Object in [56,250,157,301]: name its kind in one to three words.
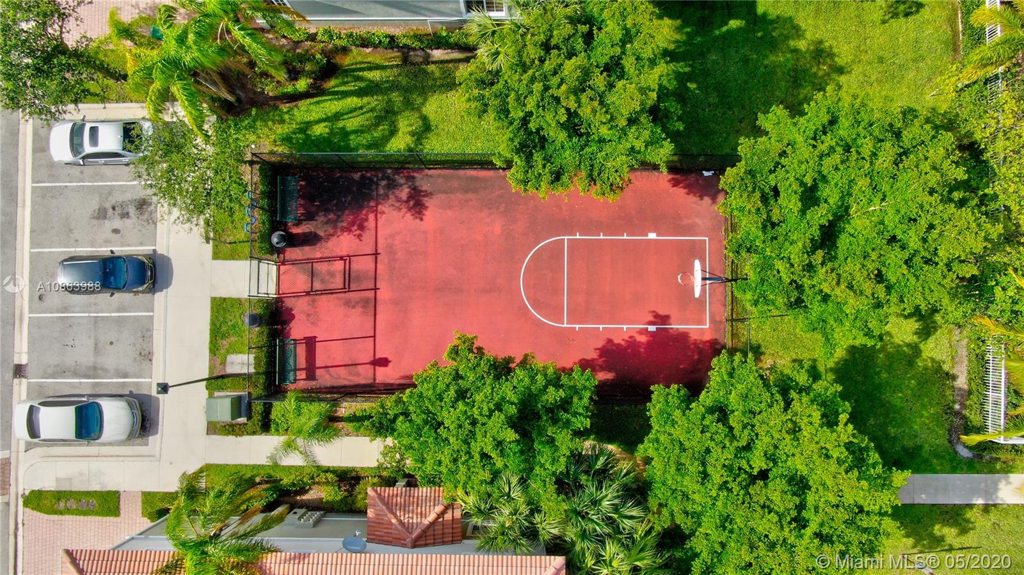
car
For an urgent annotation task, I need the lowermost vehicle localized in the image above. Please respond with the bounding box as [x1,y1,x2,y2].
[13,393,140,449]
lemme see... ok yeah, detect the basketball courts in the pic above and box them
[277,168,728,389]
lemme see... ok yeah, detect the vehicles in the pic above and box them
[13,393,140,449]
[49,117,156,168]
[56,250,157,301]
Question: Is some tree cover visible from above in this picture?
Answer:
Yes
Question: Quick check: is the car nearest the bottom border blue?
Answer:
No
